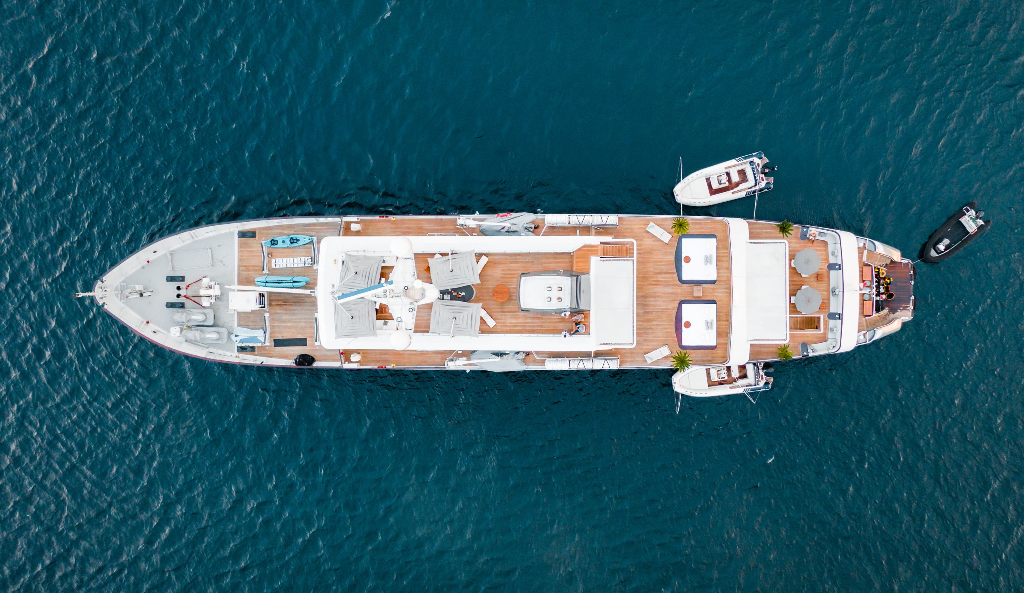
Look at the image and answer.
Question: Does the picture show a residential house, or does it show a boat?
boat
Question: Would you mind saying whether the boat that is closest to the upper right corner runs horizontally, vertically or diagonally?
diagonally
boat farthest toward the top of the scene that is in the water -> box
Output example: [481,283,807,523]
[674,152,775,205]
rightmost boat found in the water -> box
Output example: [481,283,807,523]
[925,203,990,263]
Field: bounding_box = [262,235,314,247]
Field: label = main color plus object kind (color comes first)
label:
blue boat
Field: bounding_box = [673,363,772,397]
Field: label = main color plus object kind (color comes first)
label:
white boat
